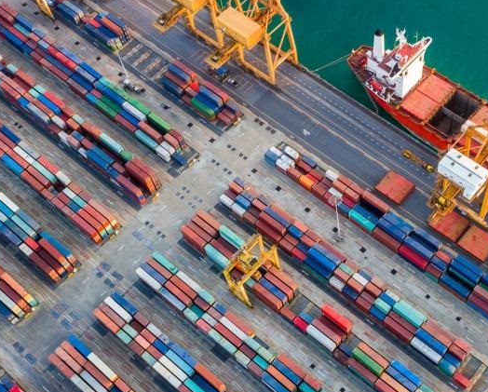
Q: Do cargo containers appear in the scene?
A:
Yes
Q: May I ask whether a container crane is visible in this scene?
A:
Yes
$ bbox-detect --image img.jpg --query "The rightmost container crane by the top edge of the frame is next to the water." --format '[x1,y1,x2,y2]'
[193,0,301,87]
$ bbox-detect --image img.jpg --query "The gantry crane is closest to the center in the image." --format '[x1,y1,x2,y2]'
[224,236,284,308]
